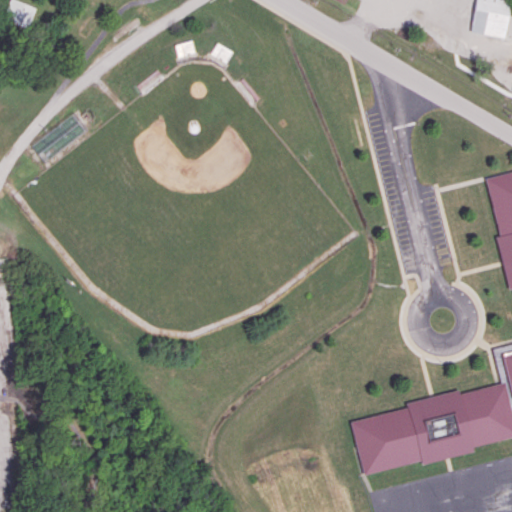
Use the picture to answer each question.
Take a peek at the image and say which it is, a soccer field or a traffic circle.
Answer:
traffic circle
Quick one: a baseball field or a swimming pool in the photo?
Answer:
baseball field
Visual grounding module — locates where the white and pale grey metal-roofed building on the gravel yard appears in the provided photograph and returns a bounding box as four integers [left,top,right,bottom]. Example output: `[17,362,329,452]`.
[472,0,510,40]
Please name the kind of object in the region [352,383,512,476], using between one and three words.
building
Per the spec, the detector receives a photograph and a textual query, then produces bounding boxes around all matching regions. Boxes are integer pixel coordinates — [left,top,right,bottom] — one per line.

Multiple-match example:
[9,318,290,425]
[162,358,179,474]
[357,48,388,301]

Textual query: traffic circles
[400,279,486,363]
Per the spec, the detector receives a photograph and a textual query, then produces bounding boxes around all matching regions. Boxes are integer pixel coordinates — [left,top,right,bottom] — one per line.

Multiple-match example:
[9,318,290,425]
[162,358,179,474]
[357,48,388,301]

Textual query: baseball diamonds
[8,60,358,340]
